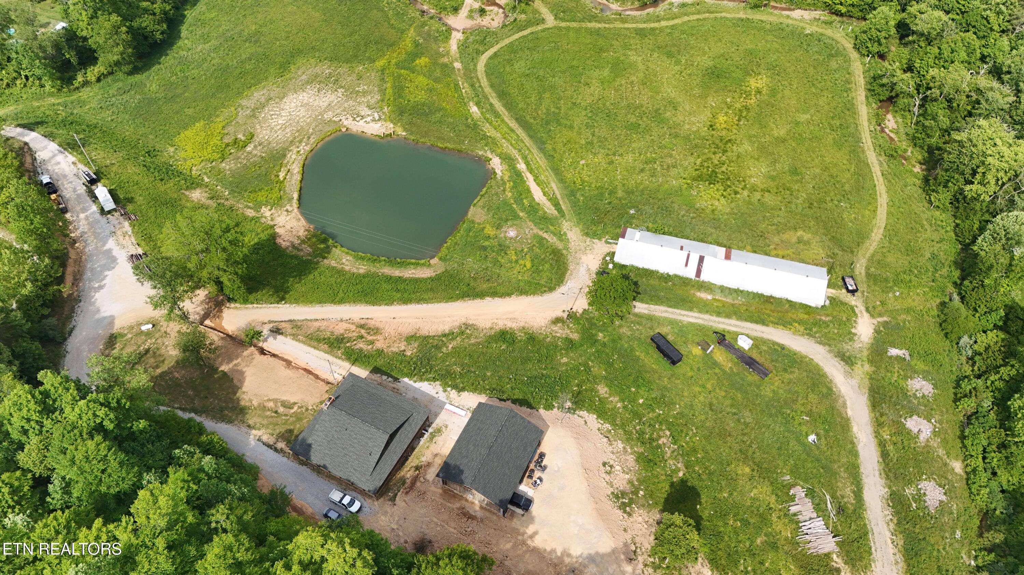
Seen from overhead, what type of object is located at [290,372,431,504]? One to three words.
house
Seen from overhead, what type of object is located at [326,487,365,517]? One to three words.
truck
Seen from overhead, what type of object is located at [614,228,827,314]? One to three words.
barn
